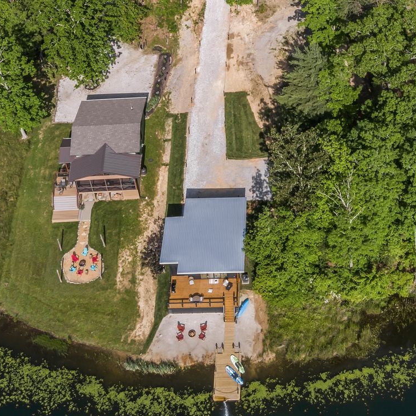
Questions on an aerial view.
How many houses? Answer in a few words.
two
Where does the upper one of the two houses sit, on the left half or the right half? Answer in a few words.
left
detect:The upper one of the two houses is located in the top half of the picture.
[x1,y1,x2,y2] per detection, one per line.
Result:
[54,101,147,201]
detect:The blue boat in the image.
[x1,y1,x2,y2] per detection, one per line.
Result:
[235,297,249,329]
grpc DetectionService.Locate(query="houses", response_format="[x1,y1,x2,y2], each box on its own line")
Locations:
[54,101,147,201]
[159,197,250,292]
